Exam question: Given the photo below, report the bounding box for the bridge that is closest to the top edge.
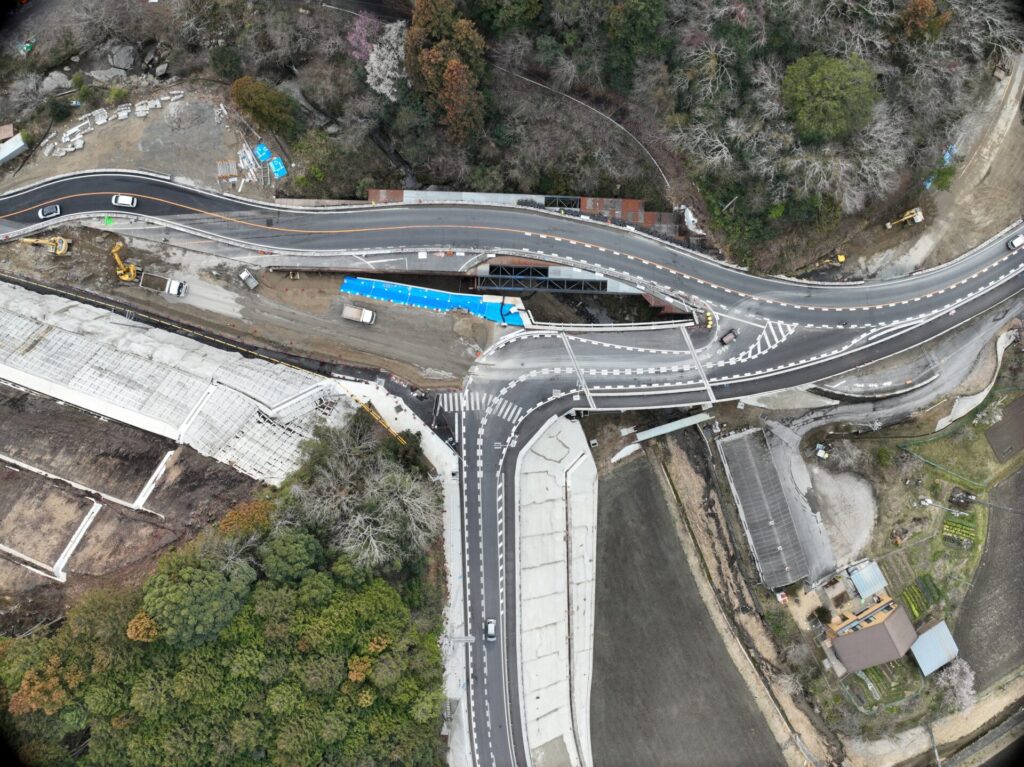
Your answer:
[519,296,700,333]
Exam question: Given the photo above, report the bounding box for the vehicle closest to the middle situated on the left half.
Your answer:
[337,304,374,325]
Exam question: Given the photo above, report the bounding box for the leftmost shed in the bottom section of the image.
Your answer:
[714,430,809,590]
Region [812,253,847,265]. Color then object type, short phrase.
yellow vehicle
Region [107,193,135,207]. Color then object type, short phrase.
white car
